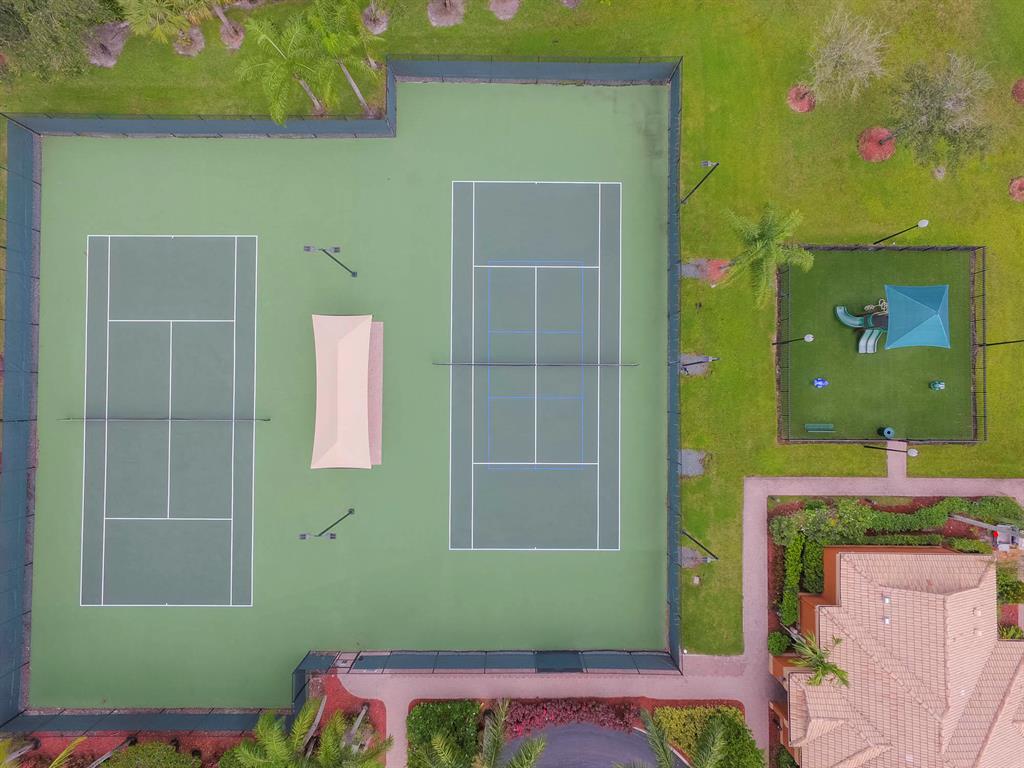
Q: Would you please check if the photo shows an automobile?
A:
No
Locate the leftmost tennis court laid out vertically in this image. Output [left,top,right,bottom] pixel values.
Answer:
[80,235,257,606]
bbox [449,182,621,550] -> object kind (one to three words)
tennis court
